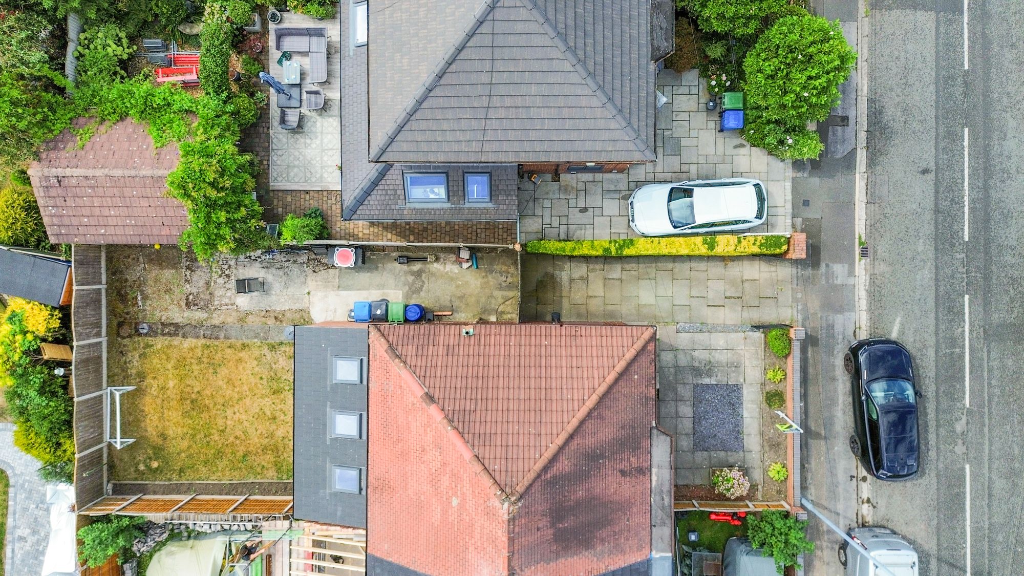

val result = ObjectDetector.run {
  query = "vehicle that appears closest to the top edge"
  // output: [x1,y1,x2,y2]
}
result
[625,178,772,237]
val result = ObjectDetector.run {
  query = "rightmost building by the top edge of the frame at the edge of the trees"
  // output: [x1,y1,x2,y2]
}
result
[338,0,676,224]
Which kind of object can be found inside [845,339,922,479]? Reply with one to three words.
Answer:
car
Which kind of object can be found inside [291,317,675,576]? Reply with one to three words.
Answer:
house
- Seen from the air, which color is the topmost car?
white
